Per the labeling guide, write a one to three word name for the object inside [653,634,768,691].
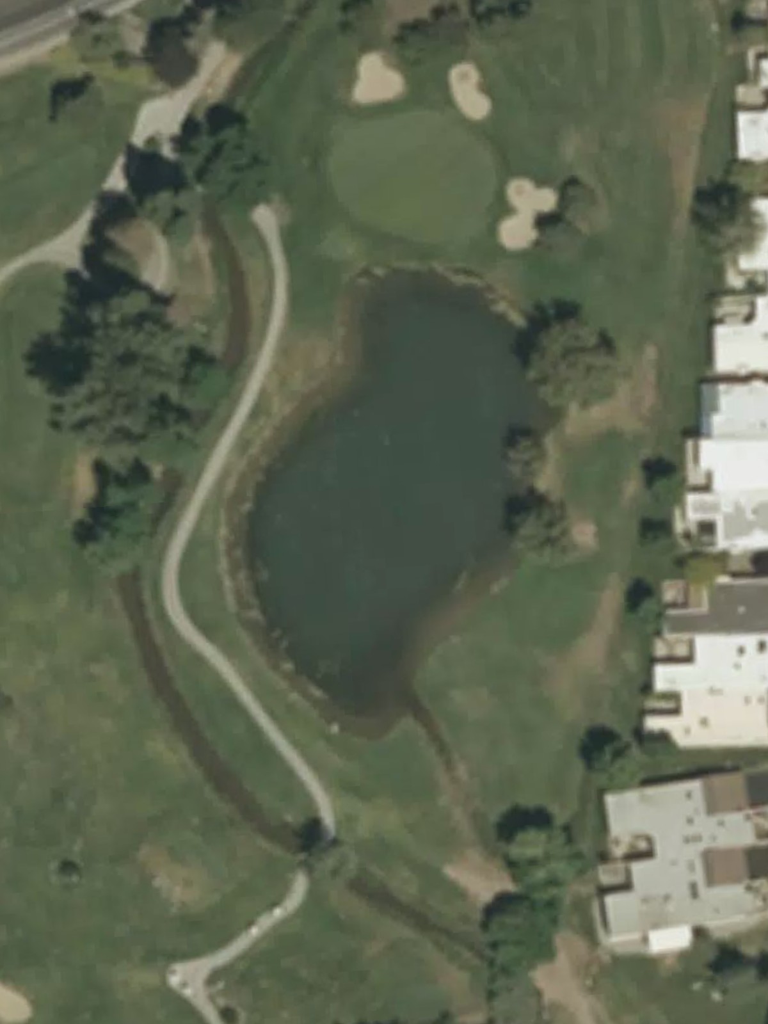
house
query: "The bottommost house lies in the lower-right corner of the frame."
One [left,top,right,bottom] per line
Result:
[593,769,768,955]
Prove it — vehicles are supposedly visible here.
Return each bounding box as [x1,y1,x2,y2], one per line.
[272,906,283,917]
[249,924,260,935]
[181,986,192,998]
[170,974,179,986]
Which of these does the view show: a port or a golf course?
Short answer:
golf course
